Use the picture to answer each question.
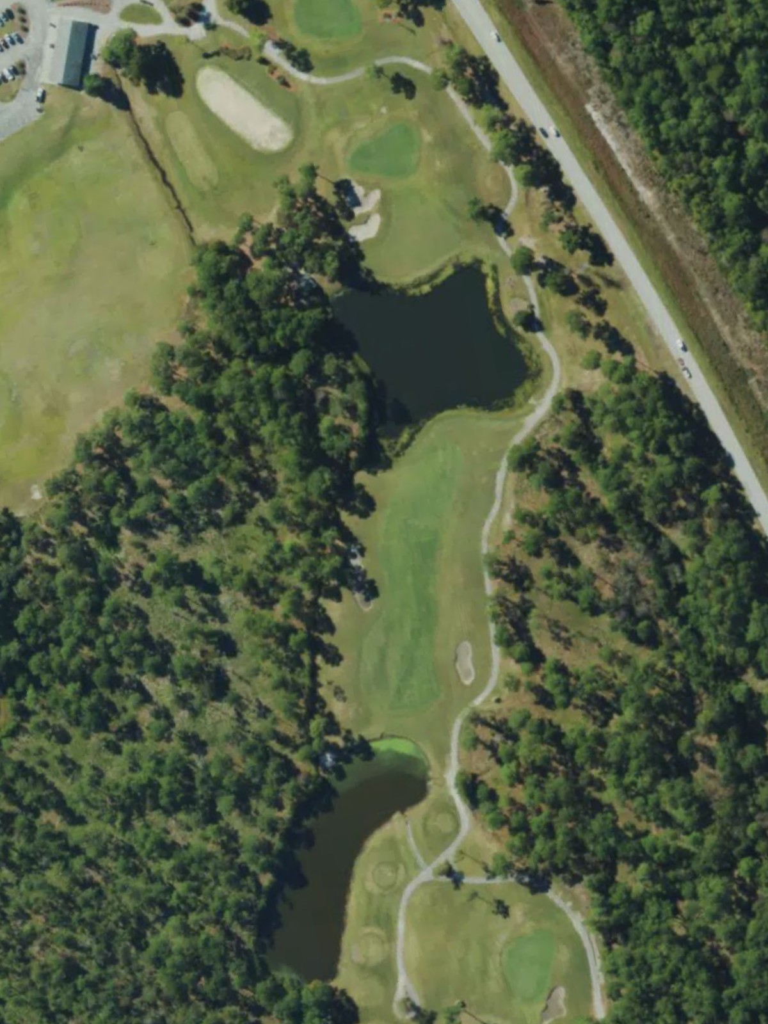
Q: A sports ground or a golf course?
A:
golf course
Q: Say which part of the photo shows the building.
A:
top left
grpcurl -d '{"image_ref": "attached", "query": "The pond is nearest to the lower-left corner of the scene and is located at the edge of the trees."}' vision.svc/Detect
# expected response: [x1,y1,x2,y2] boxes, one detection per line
[266,762,428,980]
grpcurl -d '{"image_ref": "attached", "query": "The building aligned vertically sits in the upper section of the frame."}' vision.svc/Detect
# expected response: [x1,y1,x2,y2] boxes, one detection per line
[59,21,89,87]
